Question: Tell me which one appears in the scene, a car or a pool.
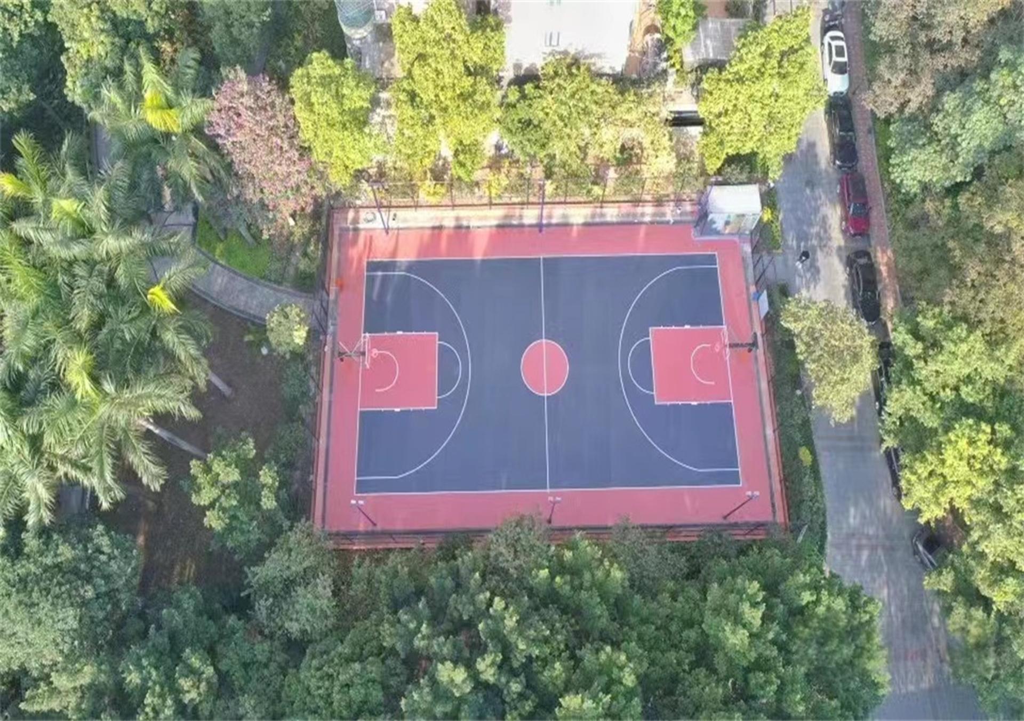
car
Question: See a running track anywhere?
No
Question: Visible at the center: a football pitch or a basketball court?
basketball court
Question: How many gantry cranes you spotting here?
0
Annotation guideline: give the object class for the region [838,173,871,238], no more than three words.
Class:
car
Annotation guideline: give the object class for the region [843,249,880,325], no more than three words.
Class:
car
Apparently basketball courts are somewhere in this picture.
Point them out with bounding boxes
[316,198,785,546]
